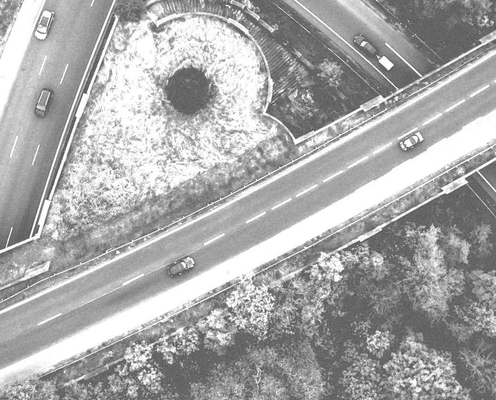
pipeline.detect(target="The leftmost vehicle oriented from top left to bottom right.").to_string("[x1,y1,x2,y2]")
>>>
[351,34,379,59]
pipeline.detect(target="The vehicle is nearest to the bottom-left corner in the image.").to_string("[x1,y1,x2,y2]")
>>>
[165,255,198,280]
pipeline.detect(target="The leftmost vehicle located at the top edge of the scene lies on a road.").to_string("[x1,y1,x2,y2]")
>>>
[34,8,56,42]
